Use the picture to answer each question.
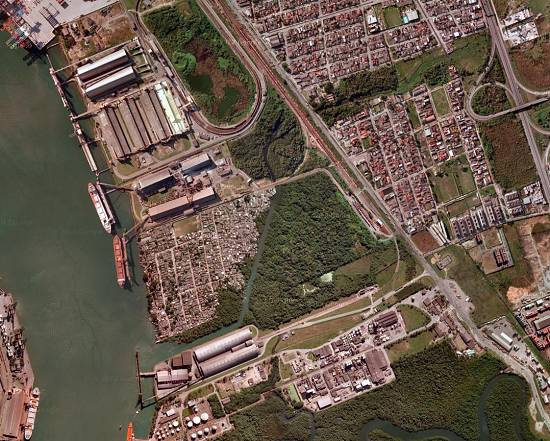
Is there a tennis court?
No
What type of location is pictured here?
port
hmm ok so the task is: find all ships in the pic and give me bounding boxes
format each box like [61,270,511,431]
[113,235,127,289]
[126,421,133,441]
[86,182,113,234]
[25,387,39,440]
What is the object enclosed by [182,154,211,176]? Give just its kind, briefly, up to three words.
shed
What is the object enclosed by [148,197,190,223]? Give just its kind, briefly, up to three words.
shed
